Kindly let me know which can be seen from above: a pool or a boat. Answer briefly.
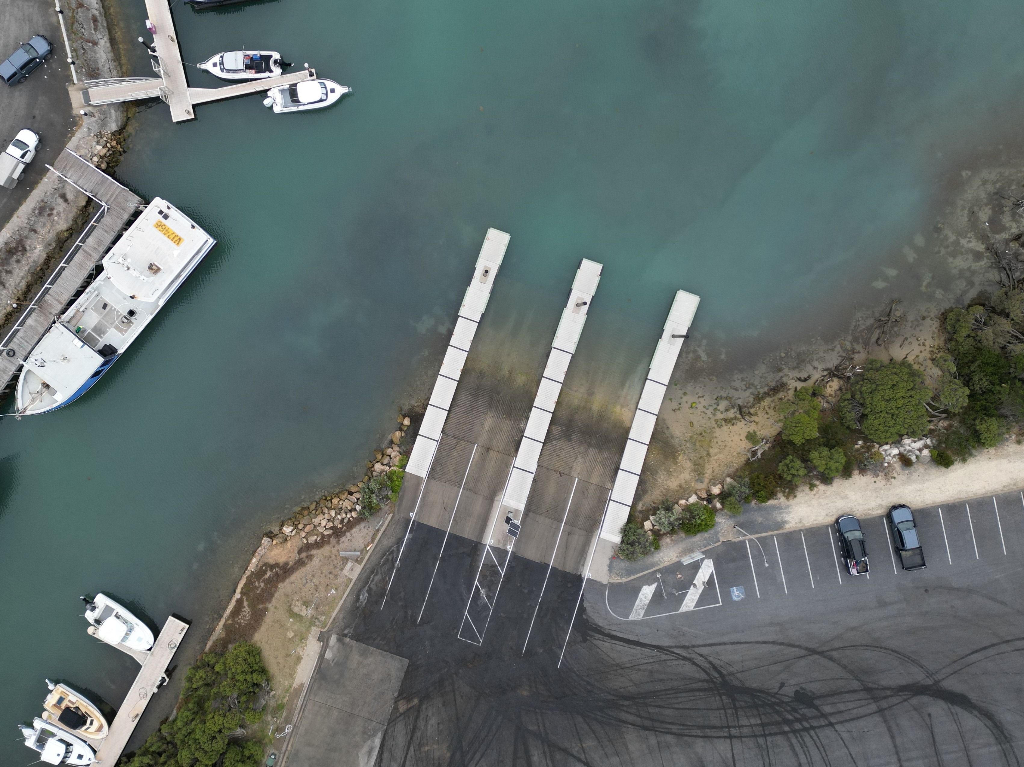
boat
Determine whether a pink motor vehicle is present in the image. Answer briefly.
No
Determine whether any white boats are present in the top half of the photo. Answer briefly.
Yes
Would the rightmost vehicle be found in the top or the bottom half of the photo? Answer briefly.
bottom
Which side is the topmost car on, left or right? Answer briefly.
left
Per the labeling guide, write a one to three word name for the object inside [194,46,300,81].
boat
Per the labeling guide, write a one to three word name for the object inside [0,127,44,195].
vehicle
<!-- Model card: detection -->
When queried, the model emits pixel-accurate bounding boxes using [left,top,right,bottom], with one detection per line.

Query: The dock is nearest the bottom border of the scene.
[39,615,191,767]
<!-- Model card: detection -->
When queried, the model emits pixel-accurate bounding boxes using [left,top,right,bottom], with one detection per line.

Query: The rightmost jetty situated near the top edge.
[145,0,317,123]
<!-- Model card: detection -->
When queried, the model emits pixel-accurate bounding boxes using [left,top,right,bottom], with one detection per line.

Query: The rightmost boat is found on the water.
[261,76,354,118]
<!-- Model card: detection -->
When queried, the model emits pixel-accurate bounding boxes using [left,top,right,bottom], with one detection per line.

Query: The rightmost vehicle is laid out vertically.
[887,503,927,570]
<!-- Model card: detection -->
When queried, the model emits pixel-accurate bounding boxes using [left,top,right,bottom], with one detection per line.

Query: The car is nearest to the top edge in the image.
[0,30,58,88]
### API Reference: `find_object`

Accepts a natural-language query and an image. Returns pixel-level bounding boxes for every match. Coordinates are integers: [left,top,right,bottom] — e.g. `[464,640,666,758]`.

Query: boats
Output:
[15,718,100,767]
[83,591,155,652]
[261,76,354,118]
[43,676,110,739]
[194,46,300,81]
[1,197,215,427]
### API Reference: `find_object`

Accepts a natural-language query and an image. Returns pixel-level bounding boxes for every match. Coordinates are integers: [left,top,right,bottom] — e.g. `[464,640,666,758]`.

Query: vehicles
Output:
[834,514,874,578]
[887,503,927,570]
[0,30,58,88]
[0,127,44,195]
